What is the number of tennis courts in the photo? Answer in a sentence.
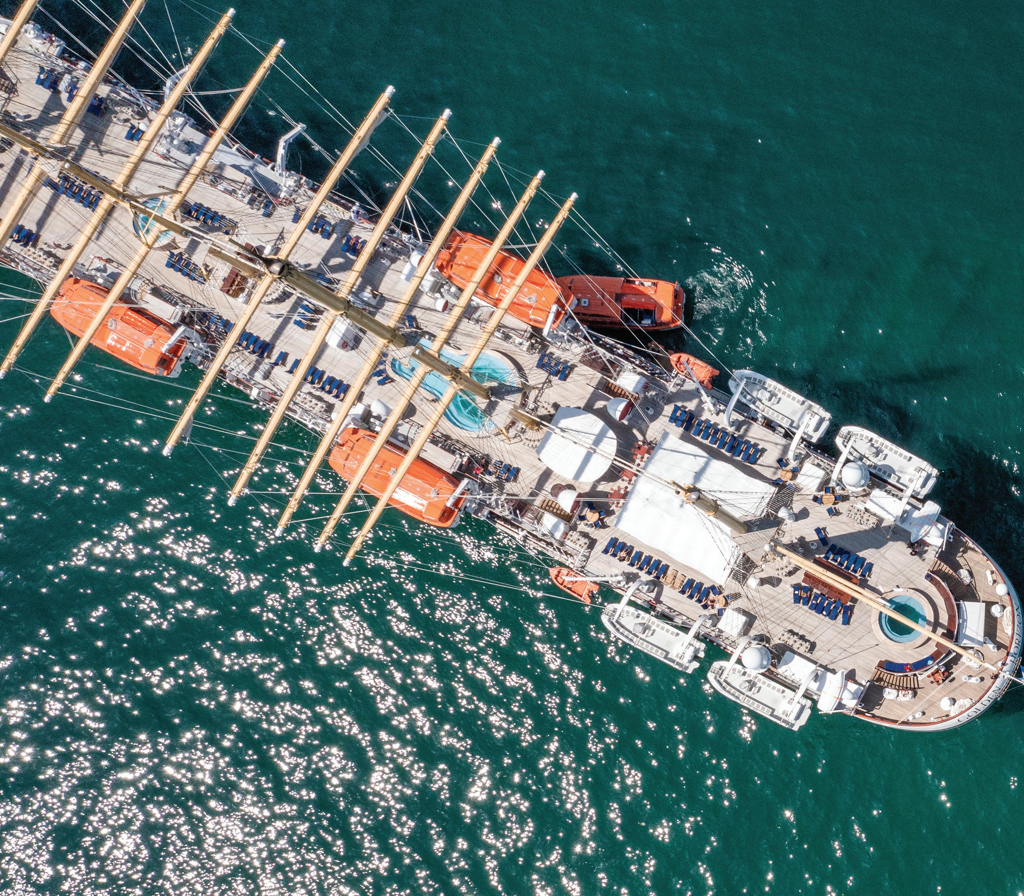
I count no tennis courts.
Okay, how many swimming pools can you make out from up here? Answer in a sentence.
The count of swimming pools comes to 3.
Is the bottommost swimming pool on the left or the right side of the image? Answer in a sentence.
It is on the right.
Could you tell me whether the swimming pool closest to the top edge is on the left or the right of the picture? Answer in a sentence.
The swimming pool closest to the top edge appears in the left half of the scene.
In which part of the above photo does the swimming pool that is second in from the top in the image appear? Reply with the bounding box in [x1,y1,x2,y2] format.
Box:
[383,332,522,438]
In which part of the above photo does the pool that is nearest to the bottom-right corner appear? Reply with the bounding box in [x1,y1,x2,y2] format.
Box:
[871,588,934,650]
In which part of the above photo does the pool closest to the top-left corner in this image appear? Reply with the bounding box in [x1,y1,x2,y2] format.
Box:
[118,190,184,253]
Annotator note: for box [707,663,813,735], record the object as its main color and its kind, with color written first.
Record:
white boat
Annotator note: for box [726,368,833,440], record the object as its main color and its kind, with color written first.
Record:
white boat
